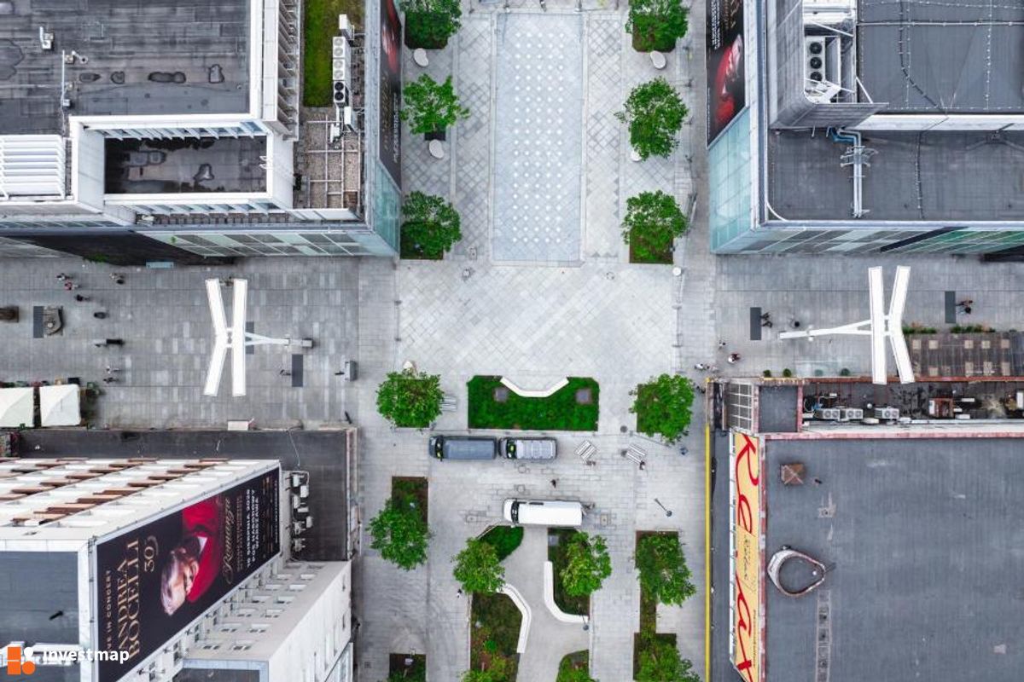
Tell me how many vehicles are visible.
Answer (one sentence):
Altogether the scene contains 3 vehicles.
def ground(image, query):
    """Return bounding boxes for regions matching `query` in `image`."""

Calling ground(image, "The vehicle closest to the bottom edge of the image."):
[504,497,586,528]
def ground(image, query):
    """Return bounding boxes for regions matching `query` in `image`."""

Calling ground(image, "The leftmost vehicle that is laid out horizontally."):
[429,434,498,463]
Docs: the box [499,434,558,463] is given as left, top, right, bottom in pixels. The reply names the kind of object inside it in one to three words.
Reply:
car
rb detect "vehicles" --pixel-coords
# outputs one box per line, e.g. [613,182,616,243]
[504,497,586,528]
[429,434,498,463]
[499,434,558,463]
